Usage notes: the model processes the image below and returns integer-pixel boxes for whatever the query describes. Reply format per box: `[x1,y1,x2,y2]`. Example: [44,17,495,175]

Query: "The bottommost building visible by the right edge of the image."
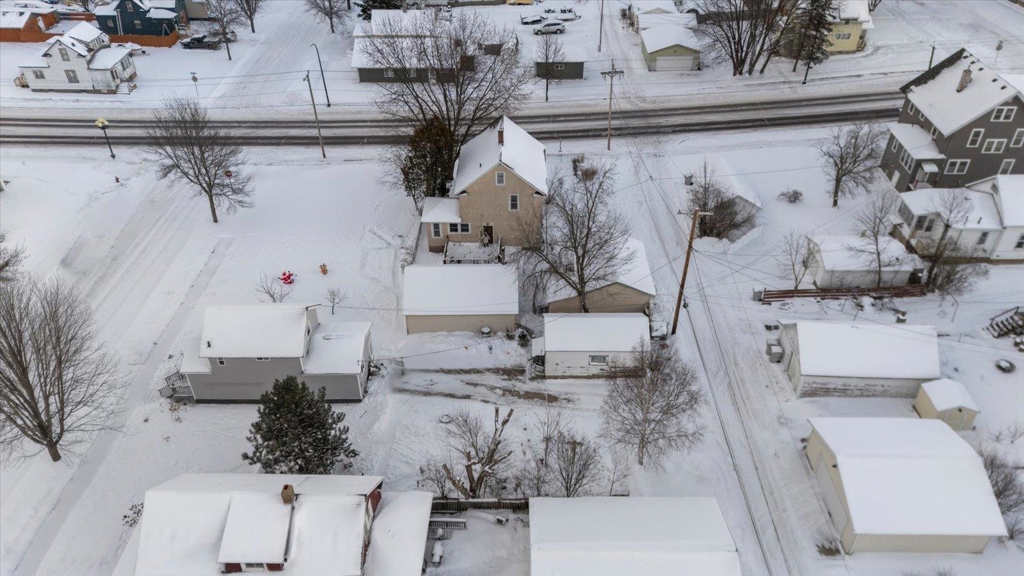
[807,425,1003,555]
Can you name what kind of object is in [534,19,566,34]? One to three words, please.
car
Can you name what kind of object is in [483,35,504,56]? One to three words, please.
shed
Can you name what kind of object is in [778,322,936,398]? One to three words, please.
building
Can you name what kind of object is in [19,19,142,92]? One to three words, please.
house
